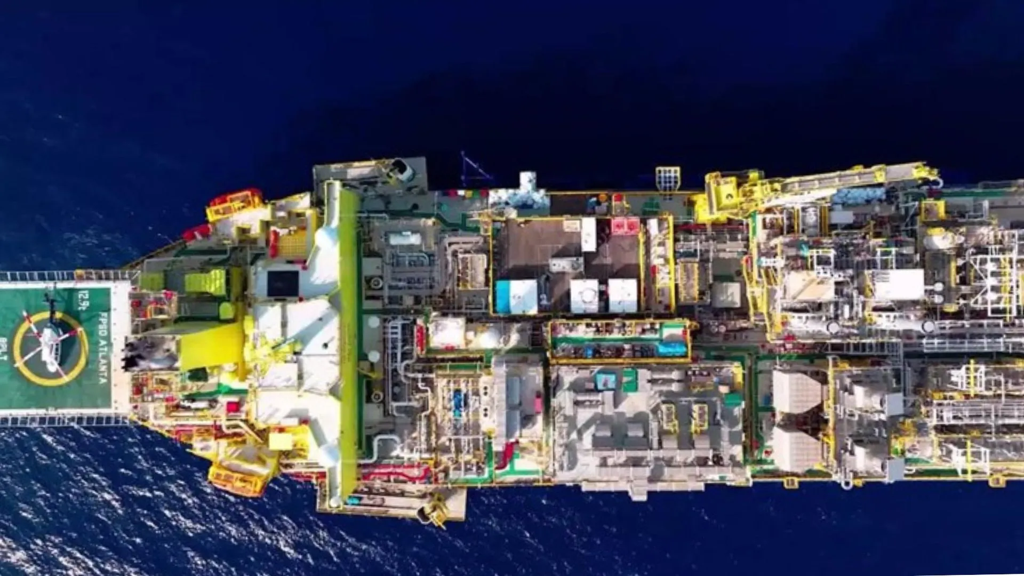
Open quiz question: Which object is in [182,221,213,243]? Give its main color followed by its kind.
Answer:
red boat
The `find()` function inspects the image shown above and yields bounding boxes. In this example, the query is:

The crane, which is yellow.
[690,162,944,223]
